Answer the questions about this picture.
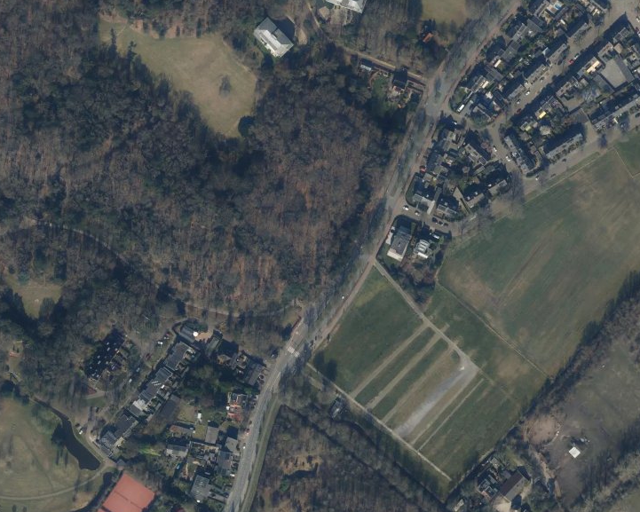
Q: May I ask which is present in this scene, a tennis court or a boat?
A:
tennis court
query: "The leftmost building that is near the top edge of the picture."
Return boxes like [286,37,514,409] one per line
[253,18,294,58]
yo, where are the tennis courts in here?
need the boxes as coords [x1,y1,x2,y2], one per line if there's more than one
[104,491,144,512]
[114,473,155,509]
